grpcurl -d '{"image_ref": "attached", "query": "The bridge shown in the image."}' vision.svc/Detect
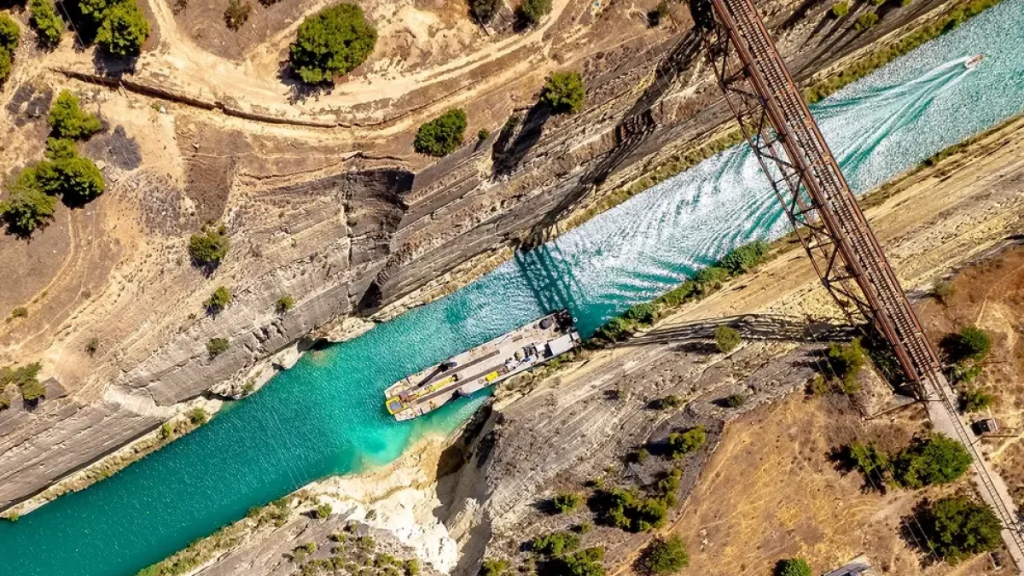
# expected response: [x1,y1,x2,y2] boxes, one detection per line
[683,0,946,400]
